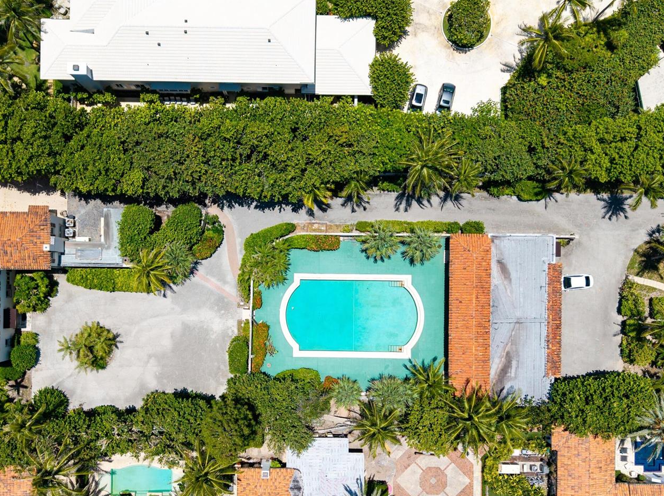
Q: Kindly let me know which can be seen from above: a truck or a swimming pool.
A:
swimming pool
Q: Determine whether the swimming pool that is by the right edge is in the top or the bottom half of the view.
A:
bottom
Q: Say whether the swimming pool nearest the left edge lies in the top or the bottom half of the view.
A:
bottom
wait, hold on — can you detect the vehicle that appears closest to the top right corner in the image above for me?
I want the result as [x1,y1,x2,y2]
[436,81,454,111]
